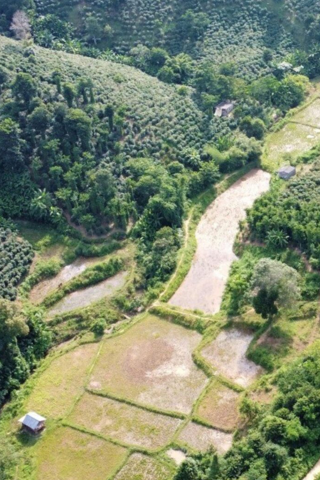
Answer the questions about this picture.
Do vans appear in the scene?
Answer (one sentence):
No, no van is visible in the scene.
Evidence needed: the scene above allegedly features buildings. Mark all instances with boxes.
[214,103,237,119]
[16,411,44,438]
[275,167,297,182]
